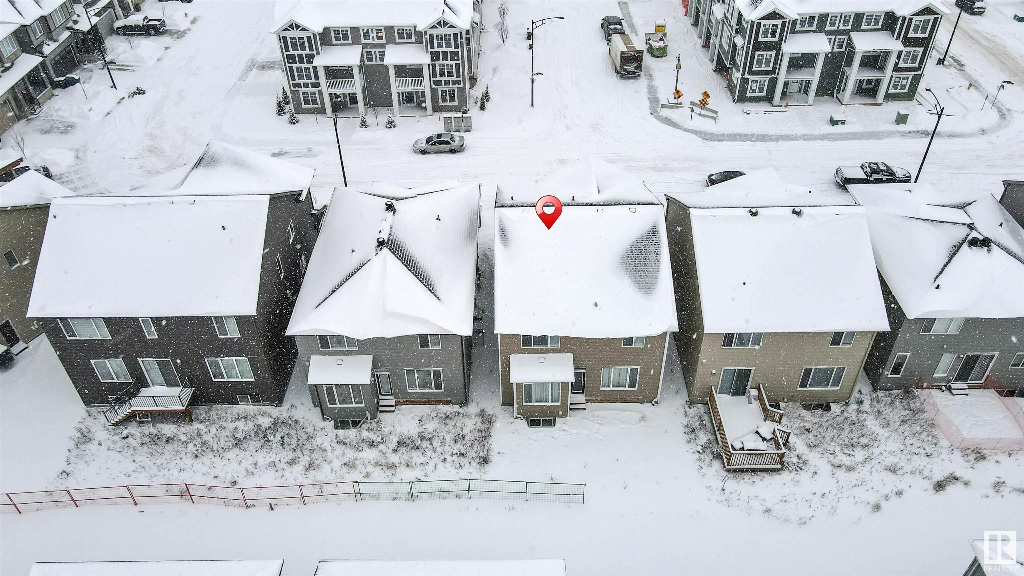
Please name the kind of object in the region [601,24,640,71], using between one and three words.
truck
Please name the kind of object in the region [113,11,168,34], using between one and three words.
truck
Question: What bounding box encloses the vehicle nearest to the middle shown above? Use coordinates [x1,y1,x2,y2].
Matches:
[413,129,467,152]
